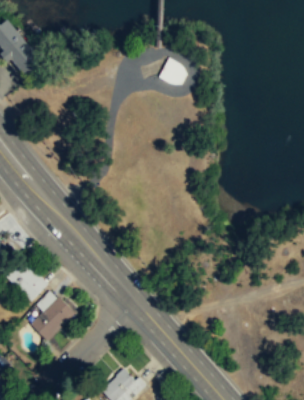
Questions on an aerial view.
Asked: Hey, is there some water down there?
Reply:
Yes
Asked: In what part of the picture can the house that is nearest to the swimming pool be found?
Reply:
bottom left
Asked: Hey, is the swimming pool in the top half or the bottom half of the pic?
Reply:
bottom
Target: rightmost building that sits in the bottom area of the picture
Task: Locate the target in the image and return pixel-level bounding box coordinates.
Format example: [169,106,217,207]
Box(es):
[105,370,147,400]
